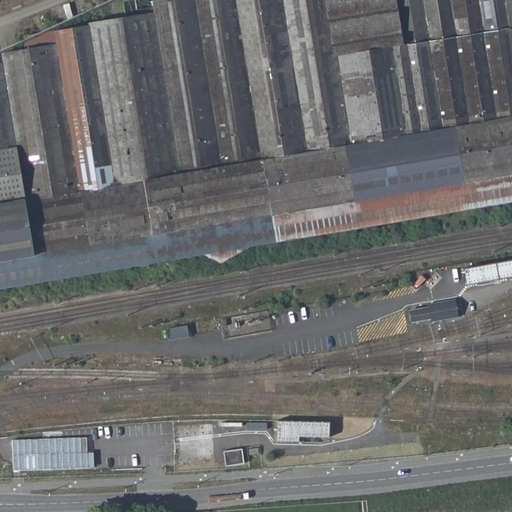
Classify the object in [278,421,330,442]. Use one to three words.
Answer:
building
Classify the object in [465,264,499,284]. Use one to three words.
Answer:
building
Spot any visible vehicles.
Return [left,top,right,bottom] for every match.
[453,268,460,282]
[132,454,137,466]
[104,426,110,438]
[208,492,249,502]
[398,470,408,475]
[118,426,124,436]
[302,307,307,319]
[93,428,98,439]
[289,311,295,323]
[328,336,334,348]
[470,300,476,312]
